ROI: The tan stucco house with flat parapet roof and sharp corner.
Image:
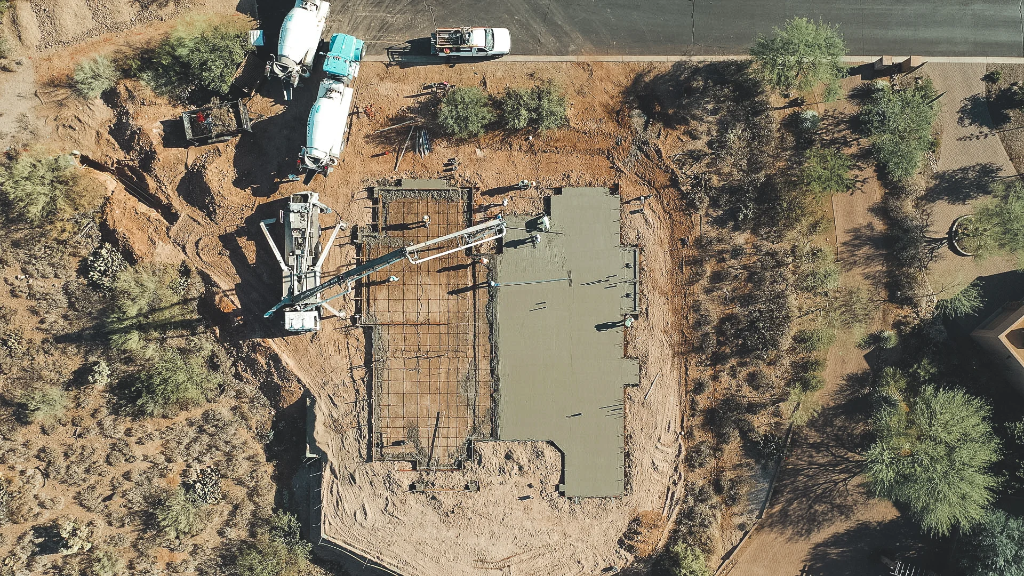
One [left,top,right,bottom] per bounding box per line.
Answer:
[941,281,1024,409]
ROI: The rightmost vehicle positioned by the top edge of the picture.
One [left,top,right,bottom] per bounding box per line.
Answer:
[430,23,512,60]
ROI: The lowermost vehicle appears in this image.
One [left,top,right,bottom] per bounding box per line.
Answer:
[261,193,519,330]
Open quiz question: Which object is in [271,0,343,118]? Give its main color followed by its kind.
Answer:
white truck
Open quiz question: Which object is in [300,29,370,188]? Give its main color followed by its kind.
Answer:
white truck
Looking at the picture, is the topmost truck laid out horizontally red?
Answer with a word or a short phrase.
No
